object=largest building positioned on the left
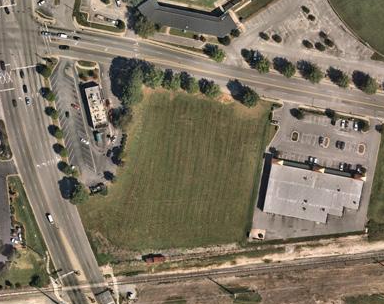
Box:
[85,85,107,129]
